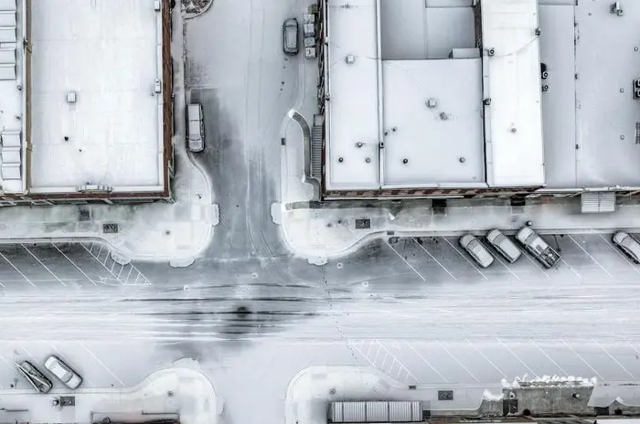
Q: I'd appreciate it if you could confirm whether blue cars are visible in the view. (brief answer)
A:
No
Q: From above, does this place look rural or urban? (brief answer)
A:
urban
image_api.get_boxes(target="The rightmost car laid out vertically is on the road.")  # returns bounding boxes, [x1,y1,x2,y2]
[282,17,299,57]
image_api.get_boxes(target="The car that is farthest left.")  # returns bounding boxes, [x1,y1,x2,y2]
[21,361,54,394]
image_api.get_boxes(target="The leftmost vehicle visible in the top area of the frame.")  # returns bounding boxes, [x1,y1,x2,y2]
[185,104,205,153]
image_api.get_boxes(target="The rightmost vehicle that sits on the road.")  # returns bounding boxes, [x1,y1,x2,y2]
[611,230,640,266]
